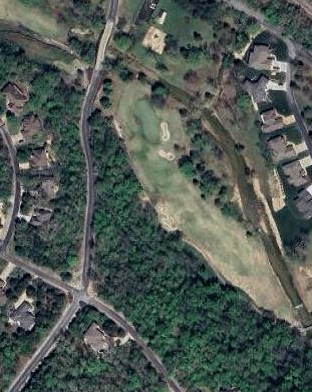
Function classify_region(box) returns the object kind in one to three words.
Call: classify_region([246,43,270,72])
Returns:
house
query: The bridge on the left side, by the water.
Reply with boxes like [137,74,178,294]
[93,10,117,64]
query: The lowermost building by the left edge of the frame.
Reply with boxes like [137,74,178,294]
[11,300,36,325]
